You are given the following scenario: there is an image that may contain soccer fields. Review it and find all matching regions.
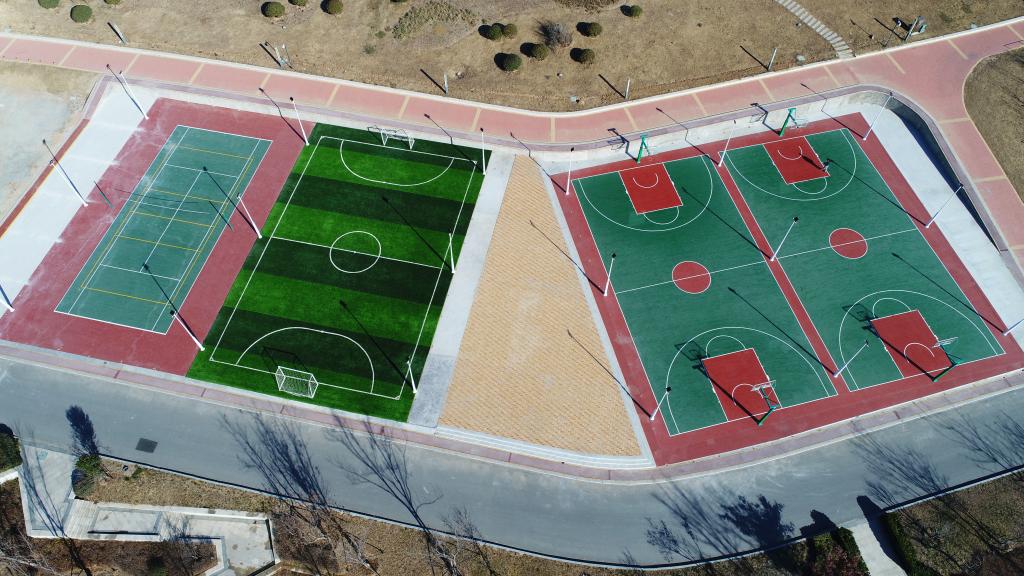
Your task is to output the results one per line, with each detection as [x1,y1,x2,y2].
[187,122,492,423]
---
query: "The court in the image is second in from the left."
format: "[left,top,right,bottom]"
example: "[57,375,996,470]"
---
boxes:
[550,143,849,466]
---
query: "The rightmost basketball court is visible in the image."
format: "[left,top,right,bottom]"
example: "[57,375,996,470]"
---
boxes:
[710,113,1024,418]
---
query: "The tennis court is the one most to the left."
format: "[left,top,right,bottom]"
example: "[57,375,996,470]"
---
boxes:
[0,98,315,377]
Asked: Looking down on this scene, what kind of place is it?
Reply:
sports ground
